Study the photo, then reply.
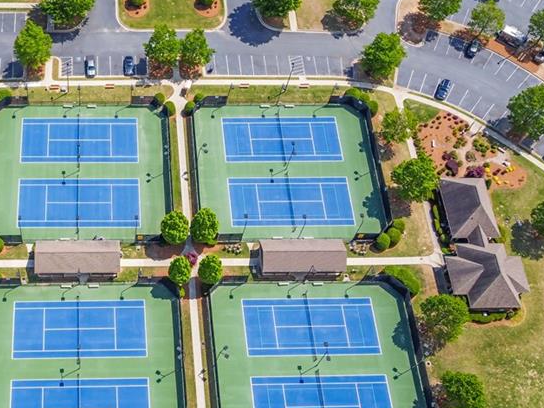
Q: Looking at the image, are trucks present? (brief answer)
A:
Yes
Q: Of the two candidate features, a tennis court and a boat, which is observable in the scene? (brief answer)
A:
tennis court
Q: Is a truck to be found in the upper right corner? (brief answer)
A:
Yes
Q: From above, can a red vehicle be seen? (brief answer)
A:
No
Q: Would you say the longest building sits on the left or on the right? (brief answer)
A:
right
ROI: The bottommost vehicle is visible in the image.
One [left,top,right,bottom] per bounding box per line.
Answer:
[436,78,452,98]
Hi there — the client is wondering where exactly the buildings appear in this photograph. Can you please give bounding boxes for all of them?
[437,178,530,317]
[35,240,121,280]
[257,239,348,279]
